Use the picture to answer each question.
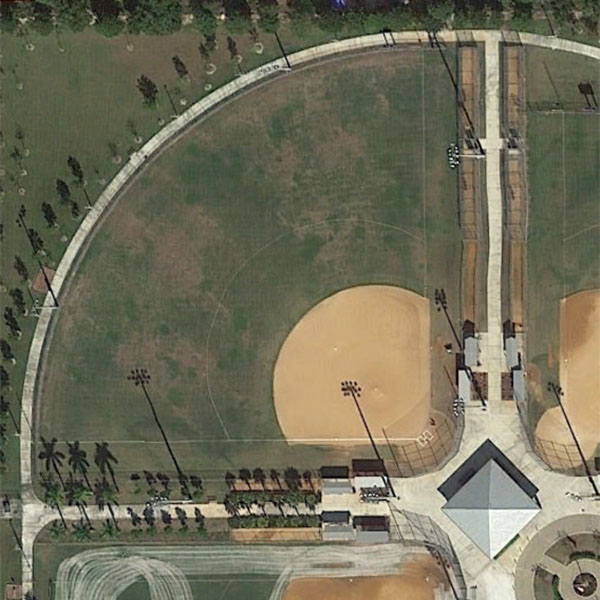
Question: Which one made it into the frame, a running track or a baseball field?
baseball field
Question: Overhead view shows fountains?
Yes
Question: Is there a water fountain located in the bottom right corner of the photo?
Yes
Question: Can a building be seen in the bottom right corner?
Yes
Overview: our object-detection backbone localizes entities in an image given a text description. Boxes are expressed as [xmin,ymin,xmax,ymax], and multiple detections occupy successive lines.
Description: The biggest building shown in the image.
[442,459,543,560]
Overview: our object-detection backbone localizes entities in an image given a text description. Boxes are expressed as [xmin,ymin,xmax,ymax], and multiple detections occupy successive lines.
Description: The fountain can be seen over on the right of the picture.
[572,572,596,597]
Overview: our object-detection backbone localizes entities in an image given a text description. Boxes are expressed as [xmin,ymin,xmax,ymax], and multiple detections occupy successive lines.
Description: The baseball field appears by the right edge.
[526,112,600,473]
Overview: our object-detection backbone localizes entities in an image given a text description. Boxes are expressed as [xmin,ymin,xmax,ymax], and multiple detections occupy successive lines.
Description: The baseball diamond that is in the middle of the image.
[36,48,464,482]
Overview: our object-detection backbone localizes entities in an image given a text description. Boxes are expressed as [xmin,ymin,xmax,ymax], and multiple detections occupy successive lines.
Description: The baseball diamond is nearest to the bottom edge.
[36,544,463,600]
